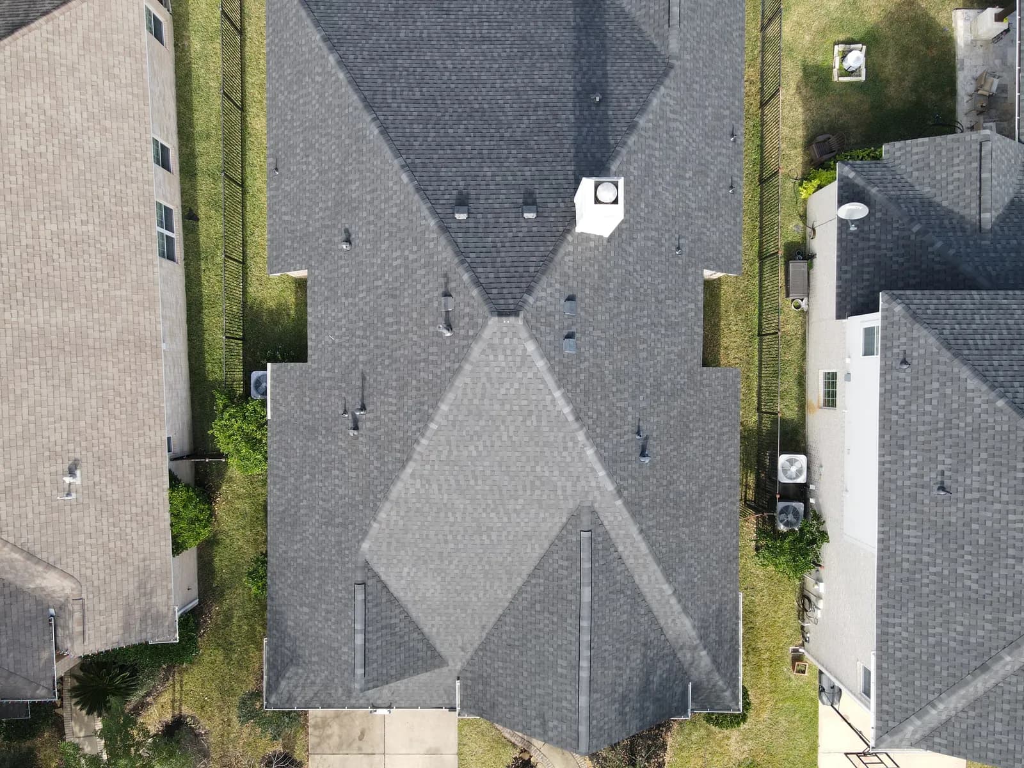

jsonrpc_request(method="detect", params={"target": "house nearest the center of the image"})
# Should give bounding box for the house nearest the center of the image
[262,0,748,757]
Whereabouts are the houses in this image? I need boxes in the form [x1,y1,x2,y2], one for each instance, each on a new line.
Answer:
[262,0,748,757]
[0,0,200,719]
[802,0,1024,768]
